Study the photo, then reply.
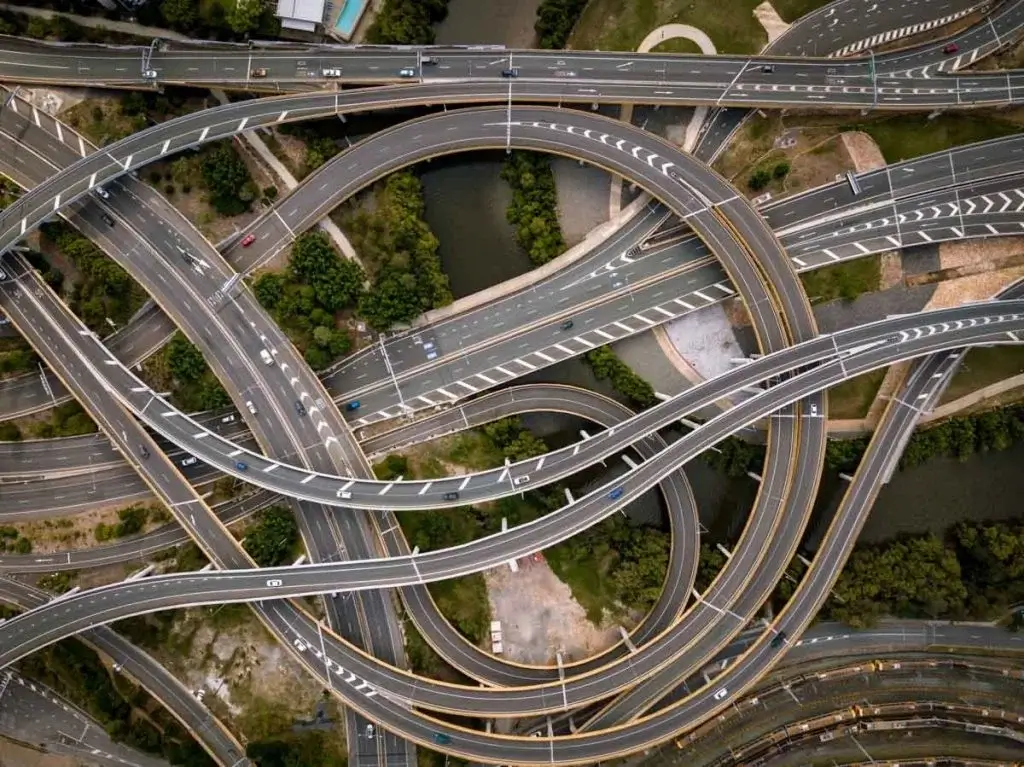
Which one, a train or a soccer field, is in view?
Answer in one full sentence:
Visible in the photo is a train.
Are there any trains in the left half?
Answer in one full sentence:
No, the scene shows no train in the left half.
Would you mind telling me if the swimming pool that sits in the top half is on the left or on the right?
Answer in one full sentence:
You can find the swimming pool that sits in the top half on the left side of the picture.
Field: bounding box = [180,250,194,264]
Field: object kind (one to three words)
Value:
car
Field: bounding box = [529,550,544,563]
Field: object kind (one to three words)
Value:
vehicle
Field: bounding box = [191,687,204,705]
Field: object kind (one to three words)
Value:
vehicle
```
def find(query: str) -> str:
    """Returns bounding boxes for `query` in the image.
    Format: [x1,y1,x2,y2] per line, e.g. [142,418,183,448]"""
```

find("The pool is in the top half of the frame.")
[318,0,375,43]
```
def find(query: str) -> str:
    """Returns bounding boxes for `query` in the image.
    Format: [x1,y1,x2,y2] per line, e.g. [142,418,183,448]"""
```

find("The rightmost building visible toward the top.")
[274,0,325,32]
